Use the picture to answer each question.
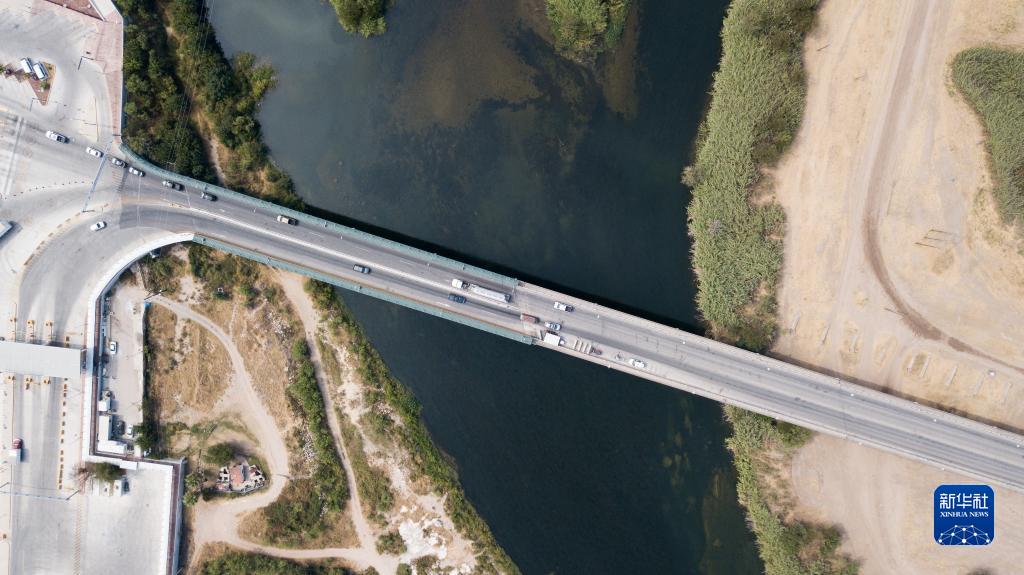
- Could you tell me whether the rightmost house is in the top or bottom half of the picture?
bottom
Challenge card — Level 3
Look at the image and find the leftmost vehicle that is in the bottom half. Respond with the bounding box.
[9,438,24,467]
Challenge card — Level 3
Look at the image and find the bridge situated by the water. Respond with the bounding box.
[117,146,1024,491]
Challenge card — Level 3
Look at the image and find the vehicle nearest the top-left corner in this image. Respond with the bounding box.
[47,130,66,143]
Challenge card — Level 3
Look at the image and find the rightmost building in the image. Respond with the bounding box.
[215,463,265,492]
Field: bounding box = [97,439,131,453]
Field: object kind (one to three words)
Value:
building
